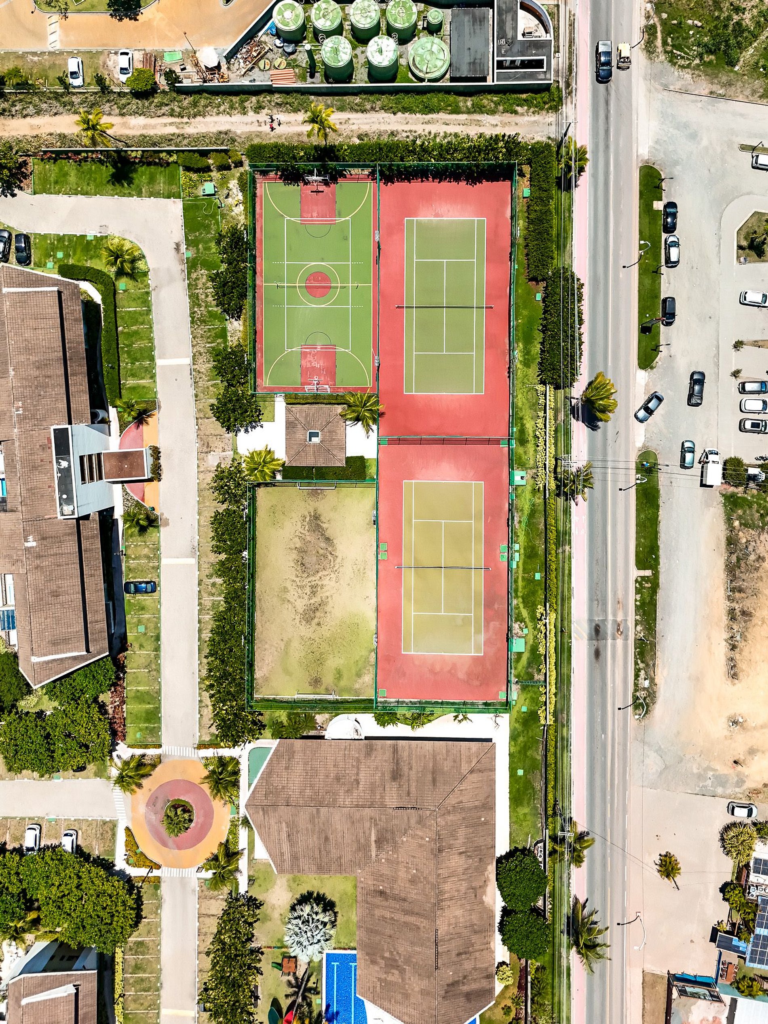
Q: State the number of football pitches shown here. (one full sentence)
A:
In total, there is 1 football pitch in the scene.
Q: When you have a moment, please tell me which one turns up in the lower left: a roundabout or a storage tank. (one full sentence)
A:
It is a roundabout that can be seen in the lower left.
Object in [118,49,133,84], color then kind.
white car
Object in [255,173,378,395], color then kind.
green sports court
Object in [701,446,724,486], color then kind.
white truck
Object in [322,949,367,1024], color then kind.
blue swimming pool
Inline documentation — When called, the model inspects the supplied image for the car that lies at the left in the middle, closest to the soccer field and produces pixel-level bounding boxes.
[124,579,157,596]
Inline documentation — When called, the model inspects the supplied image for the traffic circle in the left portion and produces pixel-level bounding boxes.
[128,760,231,868]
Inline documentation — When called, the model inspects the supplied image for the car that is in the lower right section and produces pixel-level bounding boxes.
[726,801,758,819]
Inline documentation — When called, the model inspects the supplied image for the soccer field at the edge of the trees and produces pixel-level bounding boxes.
[254,485,376,698]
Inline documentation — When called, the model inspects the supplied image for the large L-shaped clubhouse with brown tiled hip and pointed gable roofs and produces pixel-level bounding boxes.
[244,736,496,1024]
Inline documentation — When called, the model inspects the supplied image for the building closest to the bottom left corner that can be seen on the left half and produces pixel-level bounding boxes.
[8,941,113,1024]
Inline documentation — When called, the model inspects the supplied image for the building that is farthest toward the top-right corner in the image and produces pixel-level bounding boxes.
[492,0,555,92]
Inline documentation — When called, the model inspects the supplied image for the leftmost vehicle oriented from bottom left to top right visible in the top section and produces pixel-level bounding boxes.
[636,390,662,423]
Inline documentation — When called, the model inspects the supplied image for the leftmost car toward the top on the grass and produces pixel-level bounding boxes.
[69,55,85,89]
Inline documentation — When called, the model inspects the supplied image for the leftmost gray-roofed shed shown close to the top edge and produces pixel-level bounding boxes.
[450,8,489,83]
